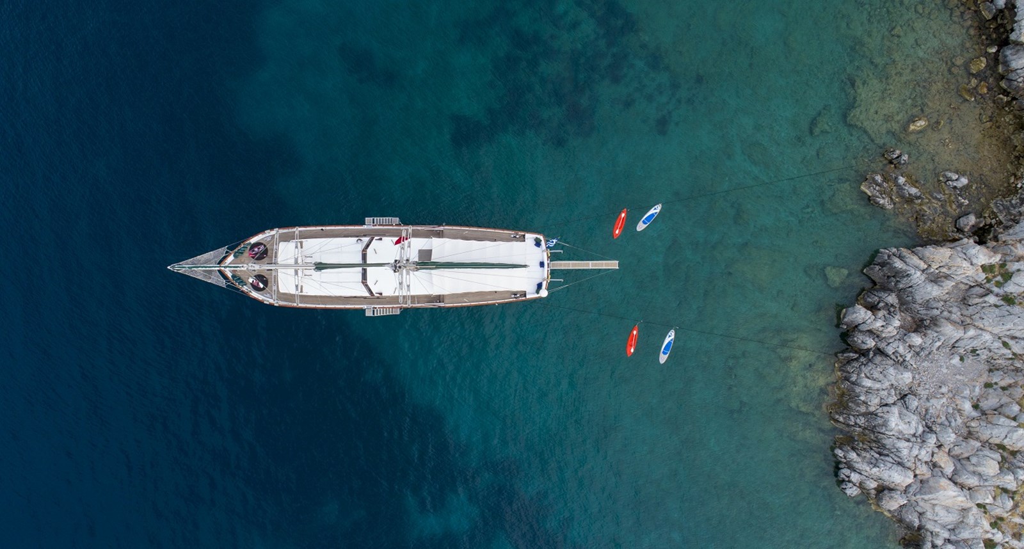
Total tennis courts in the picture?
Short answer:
none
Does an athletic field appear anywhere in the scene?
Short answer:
No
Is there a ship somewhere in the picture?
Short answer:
Yes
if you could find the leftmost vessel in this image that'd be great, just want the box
[169,217,619,316]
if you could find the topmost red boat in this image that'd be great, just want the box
[613,208,627,239]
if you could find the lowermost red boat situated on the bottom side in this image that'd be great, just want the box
[627,325,639,357]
